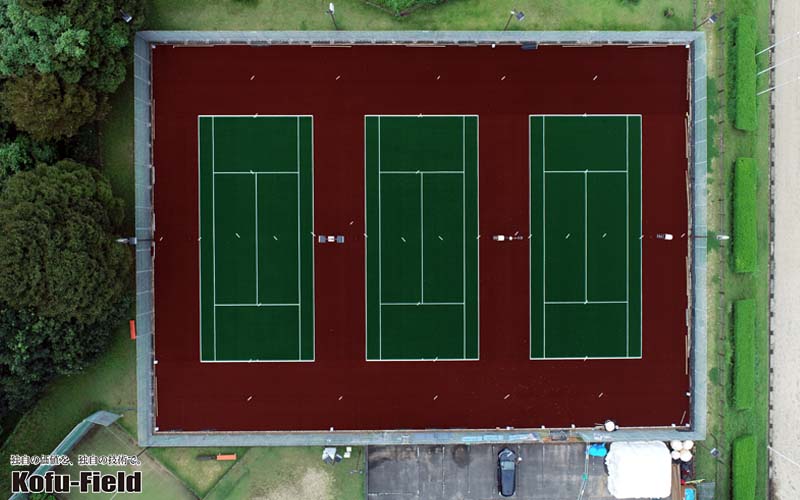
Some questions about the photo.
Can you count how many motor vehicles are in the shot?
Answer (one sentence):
Altogether the scene contains 1 motor vehicle.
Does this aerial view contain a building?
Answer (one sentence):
No, I can see no building in this picture.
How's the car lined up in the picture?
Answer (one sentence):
I'd say the car is aligned up and down in the picture.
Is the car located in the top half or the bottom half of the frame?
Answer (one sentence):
The car is in the bottom half of the image.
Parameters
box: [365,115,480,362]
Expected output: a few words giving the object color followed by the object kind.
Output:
green tennis court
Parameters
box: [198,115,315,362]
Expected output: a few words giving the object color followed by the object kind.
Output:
green tennis court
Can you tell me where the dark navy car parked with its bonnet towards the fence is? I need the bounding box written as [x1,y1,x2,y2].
[496,447,519,497]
